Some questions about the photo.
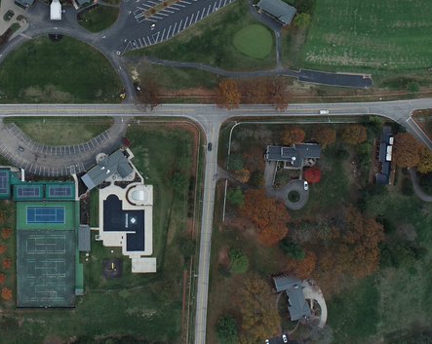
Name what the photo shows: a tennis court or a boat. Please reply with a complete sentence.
This aerial view contains a tennis court.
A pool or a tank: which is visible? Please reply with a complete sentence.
Of the two, only a pool appears.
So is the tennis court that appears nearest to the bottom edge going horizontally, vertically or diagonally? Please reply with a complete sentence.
From this overhead view, the tennis court that appears nearest to the bottom edge appears to run horizontally.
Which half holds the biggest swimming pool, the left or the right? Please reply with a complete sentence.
You can find the biggest swimming pool on the left side of the picture.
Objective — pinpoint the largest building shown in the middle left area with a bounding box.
[81,149,134,192]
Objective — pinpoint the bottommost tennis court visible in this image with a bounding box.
[17,280,75,309]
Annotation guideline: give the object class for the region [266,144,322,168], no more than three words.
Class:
house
